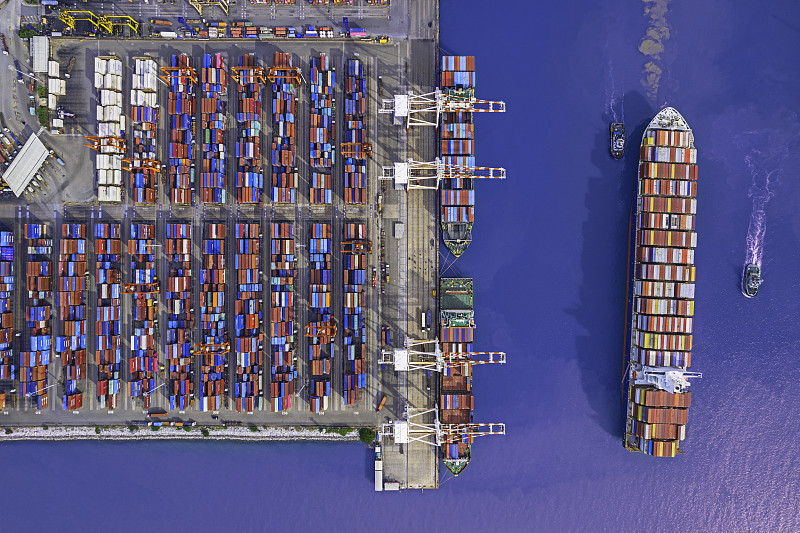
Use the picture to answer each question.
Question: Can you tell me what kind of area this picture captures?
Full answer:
It's a port.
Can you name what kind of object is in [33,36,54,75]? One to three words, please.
shed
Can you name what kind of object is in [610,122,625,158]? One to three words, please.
boat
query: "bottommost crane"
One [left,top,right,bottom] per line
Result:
[379,399,505,443]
